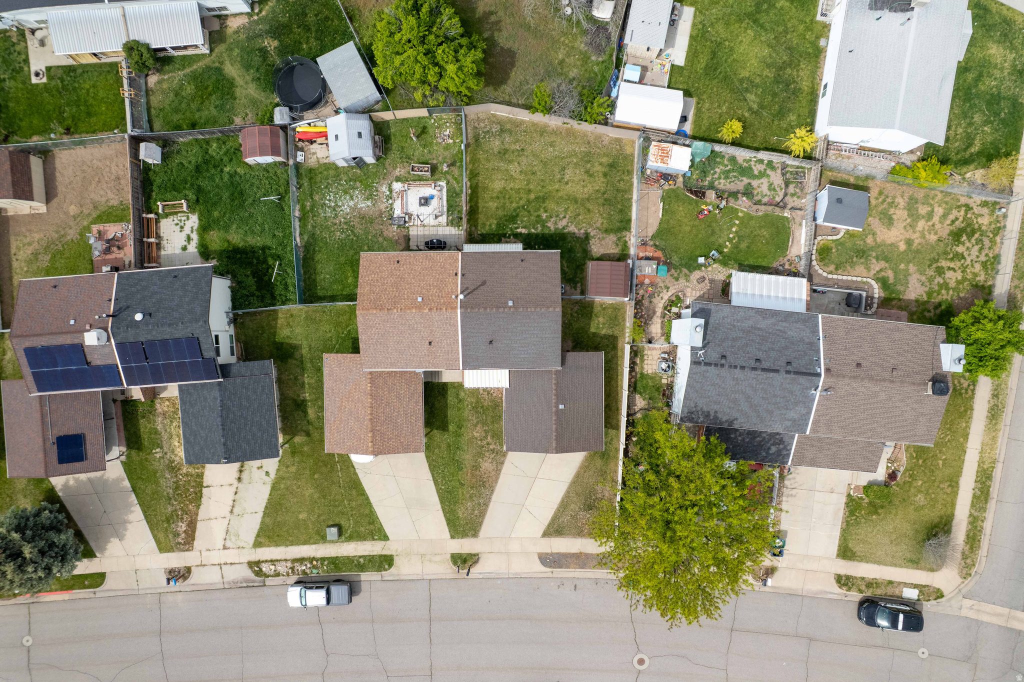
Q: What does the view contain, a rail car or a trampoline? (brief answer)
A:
trampoline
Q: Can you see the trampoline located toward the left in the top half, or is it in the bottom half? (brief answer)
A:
top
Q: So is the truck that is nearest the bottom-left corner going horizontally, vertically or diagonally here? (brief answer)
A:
horizontally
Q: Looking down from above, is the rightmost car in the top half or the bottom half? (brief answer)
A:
bottom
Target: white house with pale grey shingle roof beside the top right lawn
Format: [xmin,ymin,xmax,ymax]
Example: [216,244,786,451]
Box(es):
[814,0,972,153]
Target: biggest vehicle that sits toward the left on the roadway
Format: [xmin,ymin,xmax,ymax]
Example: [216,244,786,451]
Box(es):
[285,584,353,617]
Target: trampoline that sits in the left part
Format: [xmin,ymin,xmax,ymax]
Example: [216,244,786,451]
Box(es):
[269,52,329,116]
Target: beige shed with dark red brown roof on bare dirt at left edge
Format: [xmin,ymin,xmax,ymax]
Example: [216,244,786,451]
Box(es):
[0,149,51,214]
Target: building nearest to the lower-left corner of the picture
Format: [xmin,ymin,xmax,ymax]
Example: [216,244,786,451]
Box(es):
[0,263,284,477]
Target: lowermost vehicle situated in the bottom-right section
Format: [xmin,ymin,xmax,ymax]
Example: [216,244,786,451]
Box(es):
[859,599,926,635]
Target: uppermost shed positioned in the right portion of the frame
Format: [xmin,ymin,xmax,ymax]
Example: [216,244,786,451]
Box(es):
[621,0,673,60]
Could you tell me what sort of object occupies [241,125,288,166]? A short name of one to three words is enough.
shed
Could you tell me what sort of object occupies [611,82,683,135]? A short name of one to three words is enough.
building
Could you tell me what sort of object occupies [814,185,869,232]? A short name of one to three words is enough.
shed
